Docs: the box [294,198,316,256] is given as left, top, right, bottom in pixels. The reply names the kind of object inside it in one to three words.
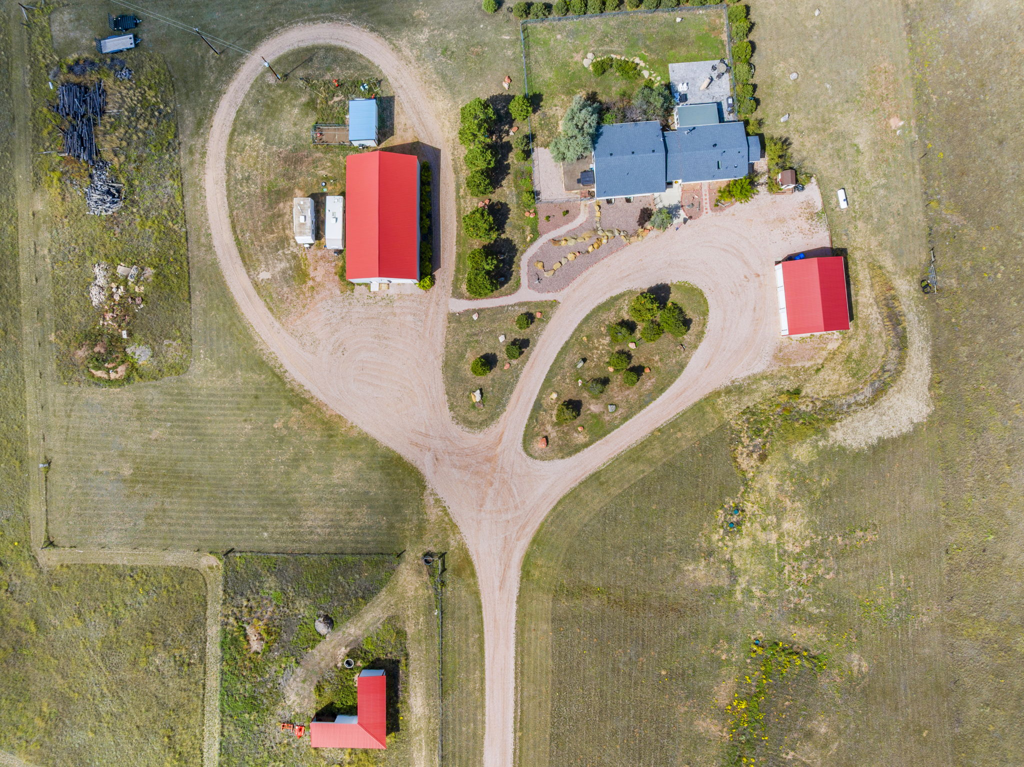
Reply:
vehicle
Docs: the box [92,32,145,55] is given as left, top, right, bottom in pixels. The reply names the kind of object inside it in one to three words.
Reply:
trailer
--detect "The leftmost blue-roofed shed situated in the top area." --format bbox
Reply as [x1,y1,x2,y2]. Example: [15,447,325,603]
[349,100,379,146]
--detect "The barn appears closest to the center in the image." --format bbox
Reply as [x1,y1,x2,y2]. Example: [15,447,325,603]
[346,150,419,284]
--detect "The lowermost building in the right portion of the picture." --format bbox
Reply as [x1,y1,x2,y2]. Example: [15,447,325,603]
[775,256,850,335]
